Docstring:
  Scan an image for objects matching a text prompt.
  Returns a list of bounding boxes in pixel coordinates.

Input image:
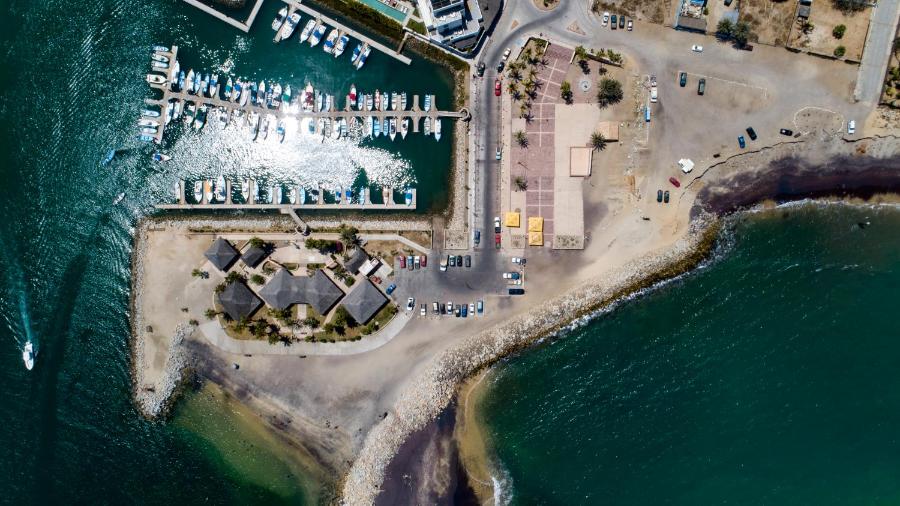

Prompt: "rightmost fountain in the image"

[576,76,594,95]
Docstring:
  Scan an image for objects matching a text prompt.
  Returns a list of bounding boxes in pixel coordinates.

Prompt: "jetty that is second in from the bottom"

[148,47,461,143]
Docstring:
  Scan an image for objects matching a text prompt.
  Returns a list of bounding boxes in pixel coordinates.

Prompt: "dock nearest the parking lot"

[156,180,418,226]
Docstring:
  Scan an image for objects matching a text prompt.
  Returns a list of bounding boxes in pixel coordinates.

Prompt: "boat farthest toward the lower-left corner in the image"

[17,338,33,370]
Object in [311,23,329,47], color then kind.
white boat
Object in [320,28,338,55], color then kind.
white boat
